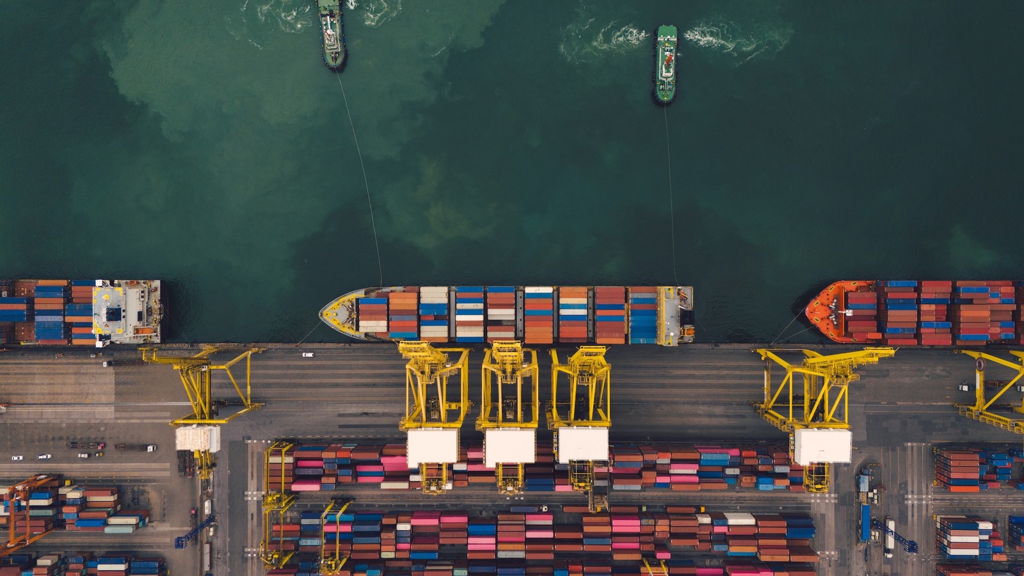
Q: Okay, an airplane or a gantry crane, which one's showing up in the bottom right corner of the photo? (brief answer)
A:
gantry crane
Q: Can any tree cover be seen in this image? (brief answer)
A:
No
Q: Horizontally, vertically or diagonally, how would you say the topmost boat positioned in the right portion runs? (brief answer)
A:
vertically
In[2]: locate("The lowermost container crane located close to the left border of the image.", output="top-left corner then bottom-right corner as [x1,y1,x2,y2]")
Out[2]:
[10,472,64,545]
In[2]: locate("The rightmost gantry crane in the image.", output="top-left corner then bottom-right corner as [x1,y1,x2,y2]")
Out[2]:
[949,348,1024,469]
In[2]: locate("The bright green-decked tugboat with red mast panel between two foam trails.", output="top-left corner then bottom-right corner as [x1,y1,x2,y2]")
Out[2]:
[652,25,679,104]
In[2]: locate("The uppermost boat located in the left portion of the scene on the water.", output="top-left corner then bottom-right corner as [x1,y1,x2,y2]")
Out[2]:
[316,0,348,70]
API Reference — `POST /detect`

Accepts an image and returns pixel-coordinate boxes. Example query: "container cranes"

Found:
[639,554,669,576]
[746,343,890,500]
[949,348,1024,469]
[135,348,262,477]
[398,342,478,499]
[264,496,303,570]
[265,436,304,509]
[477,342,545,499]
[541,347,612,512]
[321,497,356,574]
[10,472,64,545]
